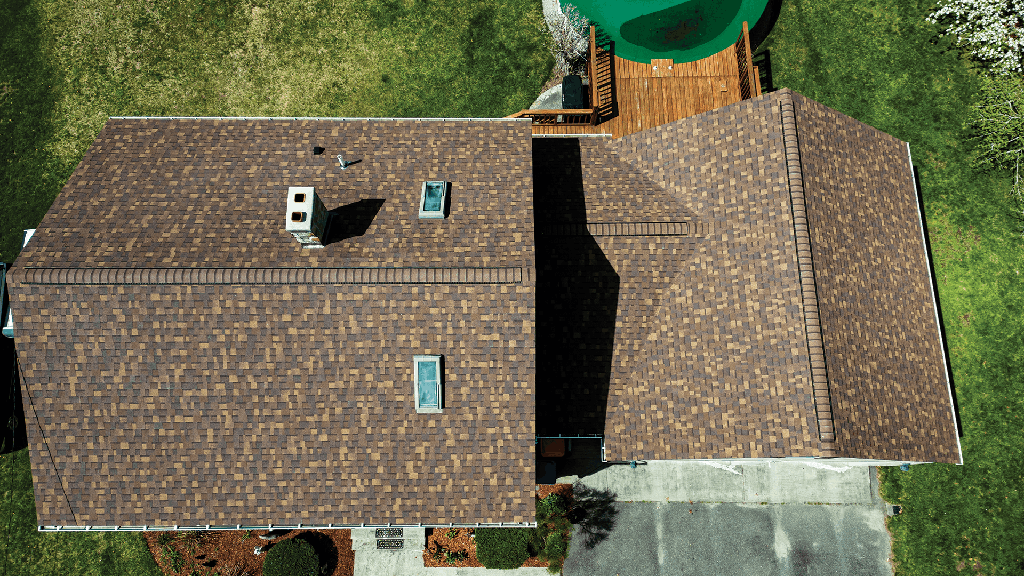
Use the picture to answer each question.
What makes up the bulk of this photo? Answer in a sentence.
The scene is dominated by buildings.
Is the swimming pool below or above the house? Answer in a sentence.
The swimming pool appears above the house in the picture.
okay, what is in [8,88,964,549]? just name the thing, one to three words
house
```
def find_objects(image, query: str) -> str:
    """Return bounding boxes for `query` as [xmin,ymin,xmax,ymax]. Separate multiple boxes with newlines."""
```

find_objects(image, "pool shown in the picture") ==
[556,0,768,80]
